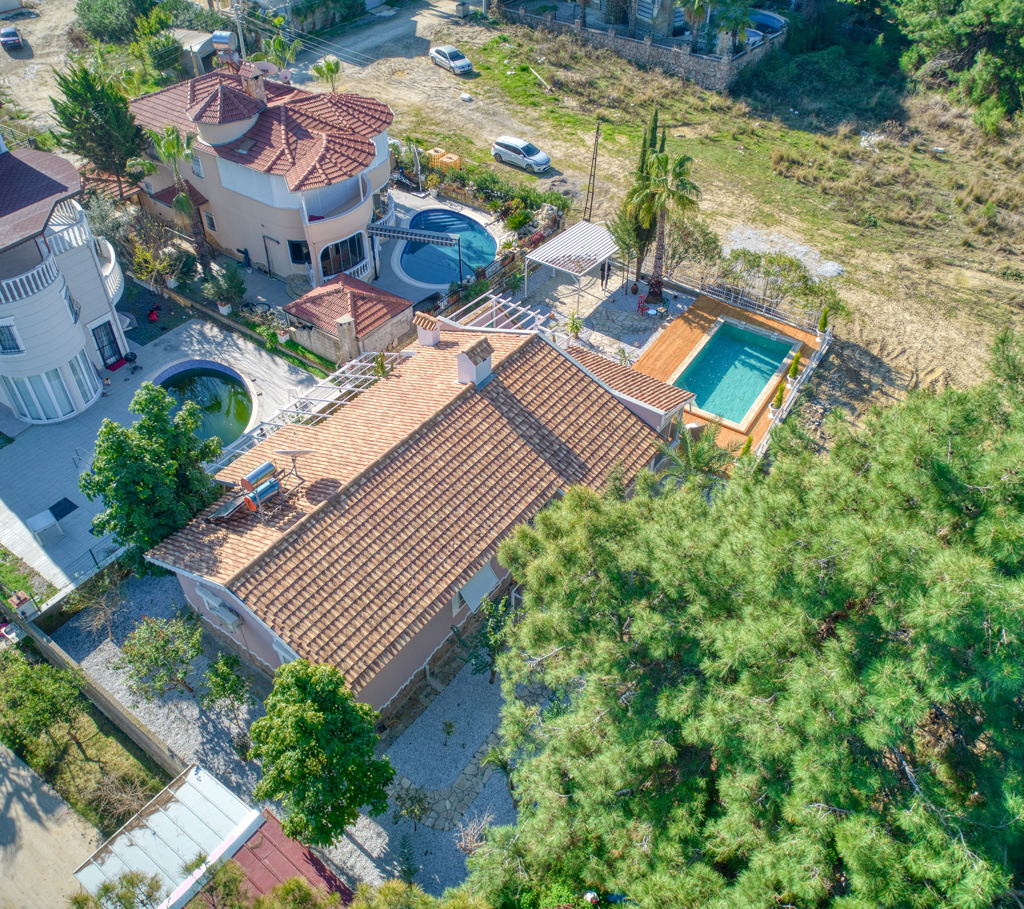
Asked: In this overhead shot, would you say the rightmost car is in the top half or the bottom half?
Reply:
top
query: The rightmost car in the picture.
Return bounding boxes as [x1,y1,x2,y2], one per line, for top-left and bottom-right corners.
[487,131,555,174]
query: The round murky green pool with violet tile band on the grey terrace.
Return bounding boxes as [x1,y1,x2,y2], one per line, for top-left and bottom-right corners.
[83,355,263,470]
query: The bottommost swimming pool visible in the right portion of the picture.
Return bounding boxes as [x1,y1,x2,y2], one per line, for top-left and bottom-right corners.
[655,317,801,431]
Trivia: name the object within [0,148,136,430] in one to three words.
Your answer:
house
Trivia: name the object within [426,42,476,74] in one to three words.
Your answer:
car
